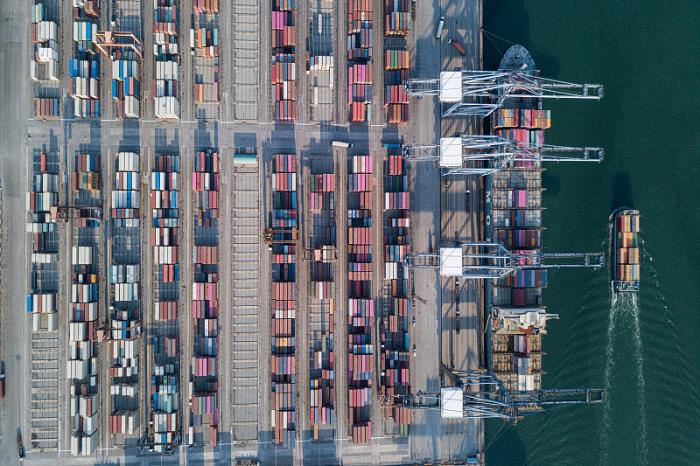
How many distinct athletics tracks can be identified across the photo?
zero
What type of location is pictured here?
port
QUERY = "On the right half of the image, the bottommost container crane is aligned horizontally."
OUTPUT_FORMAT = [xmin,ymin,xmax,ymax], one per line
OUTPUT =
[406,358,600,422]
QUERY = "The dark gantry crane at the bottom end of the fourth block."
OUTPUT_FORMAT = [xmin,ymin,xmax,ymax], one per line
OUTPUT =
[133,422,183,454]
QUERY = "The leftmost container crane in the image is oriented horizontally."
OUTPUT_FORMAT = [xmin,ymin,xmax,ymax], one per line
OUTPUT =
[47,203,103,223]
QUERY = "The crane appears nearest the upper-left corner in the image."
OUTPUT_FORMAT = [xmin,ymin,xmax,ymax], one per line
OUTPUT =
[92,32,144,63]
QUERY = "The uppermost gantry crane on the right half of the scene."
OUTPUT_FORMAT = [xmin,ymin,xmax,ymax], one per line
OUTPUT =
[405,67,599,127]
